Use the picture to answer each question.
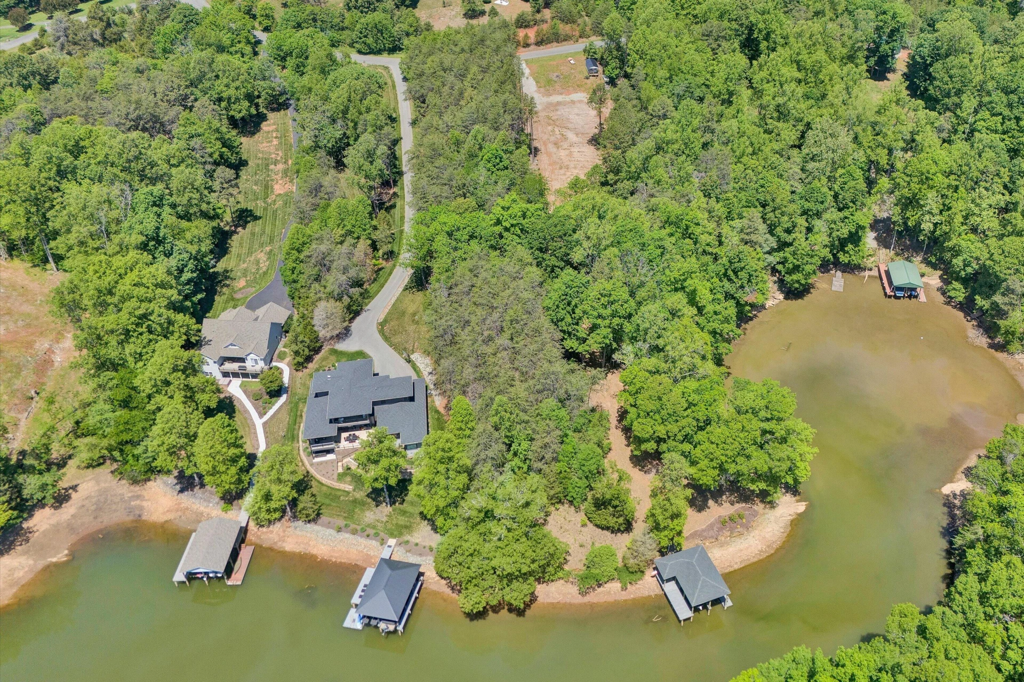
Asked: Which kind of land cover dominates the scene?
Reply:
trees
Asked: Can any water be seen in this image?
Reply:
Yes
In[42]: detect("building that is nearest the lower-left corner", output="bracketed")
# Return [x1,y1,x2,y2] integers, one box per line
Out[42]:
[174,513,253,587]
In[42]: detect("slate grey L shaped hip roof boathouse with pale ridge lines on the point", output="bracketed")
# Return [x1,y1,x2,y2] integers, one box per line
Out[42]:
[651,545,733,625]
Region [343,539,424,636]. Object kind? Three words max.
building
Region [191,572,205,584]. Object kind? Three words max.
boat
